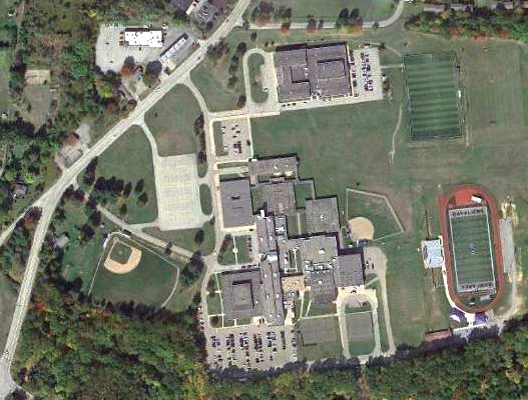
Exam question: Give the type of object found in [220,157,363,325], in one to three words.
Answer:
building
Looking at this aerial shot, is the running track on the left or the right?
right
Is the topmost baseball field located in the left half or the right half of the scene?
right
